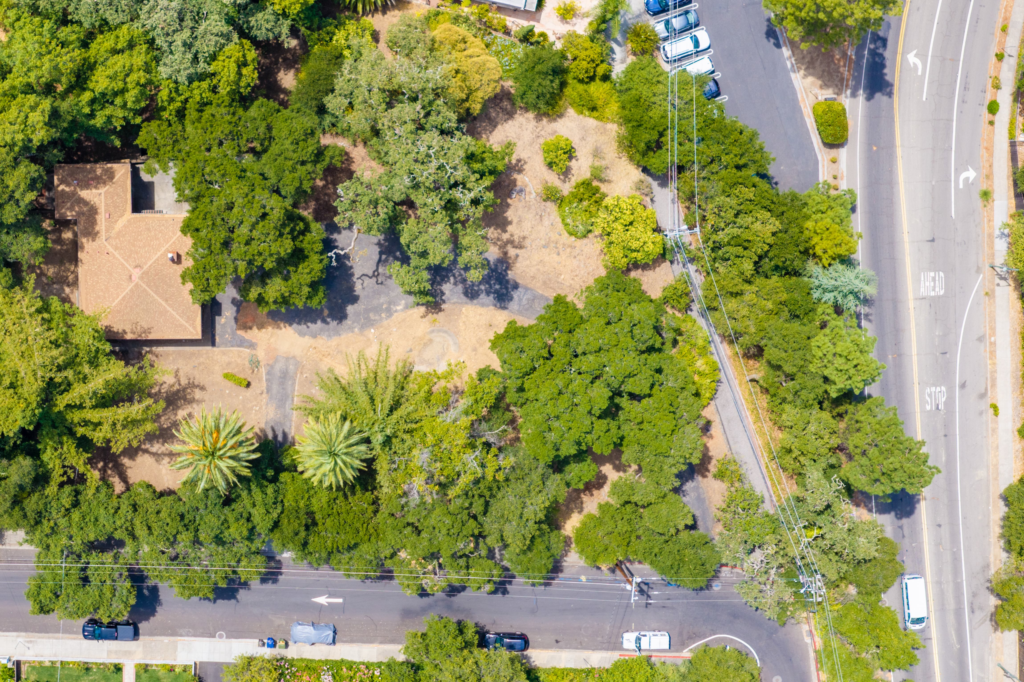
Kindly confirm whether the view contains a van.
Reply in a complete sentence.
Yes, I can see a van in this picture.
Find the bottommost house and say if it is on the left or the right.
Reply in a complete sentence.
You can find the bottommost house on the left side of the picture.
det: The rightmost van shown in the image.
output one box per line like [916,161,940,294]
[897,570,930,628]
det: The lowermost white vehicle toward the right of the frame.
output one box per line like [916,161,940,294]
[620,628,673,659]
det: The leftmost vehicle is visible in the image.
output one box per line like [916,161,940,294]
[82,618,137,644]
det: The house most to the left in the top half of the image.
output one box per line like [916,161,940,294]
[53,162,224,343]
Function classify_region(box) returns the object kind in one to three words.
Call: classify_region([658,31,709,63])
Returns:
car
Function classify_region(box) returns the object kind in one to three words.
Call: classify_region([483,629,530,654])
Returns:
car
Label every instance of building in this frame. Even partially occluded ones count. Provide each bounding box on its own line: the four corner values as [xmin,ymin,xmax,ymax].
[53,162,224,343]
[474,0,538,12]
